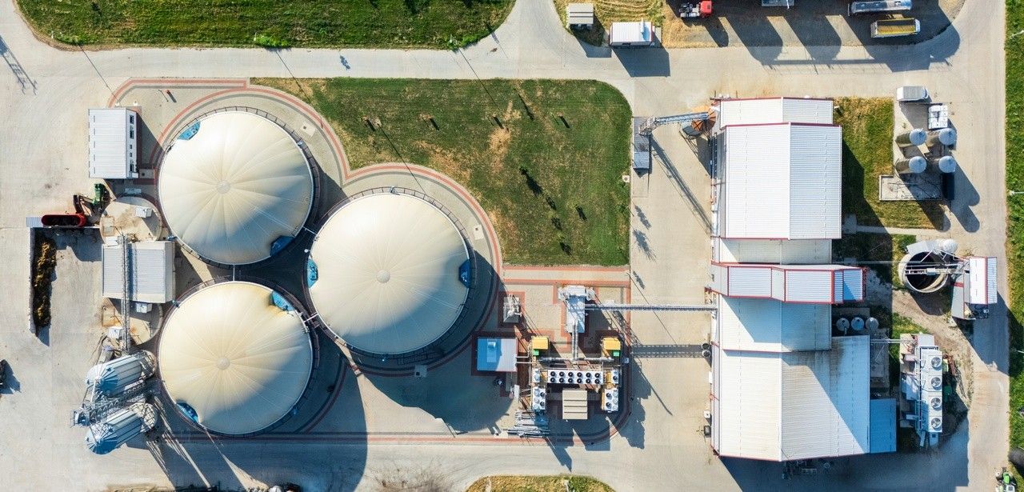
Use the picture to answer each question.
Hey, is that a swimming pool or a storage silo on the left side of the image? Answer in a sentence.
There is a storage silo on the left side of the image.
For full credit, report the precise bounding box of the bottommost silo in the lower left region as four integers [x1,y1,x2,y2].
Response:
[82,403,159,456]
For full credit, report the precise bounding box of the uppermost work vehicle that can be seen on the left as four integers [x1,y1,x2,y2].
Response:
[73,185,108,218]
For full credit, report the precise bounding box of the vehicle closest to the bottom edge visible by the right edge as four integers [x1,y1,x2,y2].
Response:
[994,464,1018,492]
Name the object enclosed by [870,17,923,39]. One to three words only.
truck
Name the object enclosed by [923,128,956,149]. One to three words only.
silo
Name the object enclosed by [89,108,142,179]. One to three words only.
building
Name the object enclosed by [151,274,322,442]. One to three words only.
storage tank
